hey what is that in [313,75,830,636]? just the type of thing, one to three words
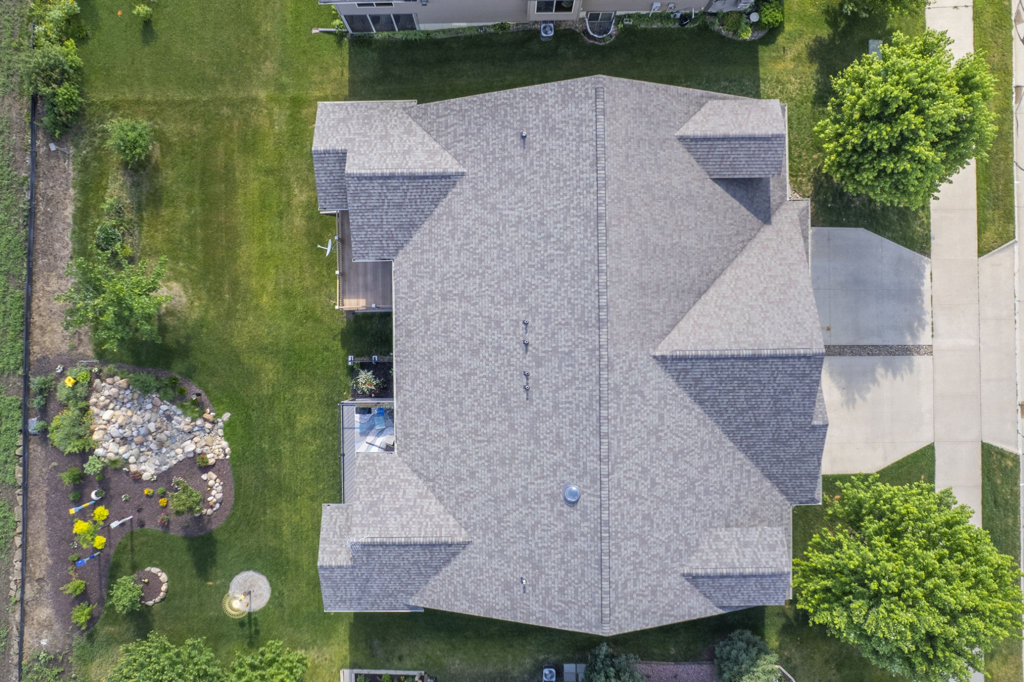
house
